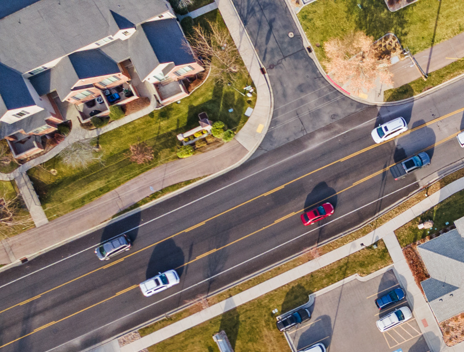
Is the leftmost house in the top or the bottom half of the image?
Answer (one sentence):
The leftmost house is in the top half of the image.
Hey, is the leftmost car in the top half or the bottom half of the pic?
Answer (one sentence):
The leftmost car is in the bottom half of the image.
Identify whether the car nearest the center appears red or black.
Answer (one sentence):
The color of the car nearest the center is red.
